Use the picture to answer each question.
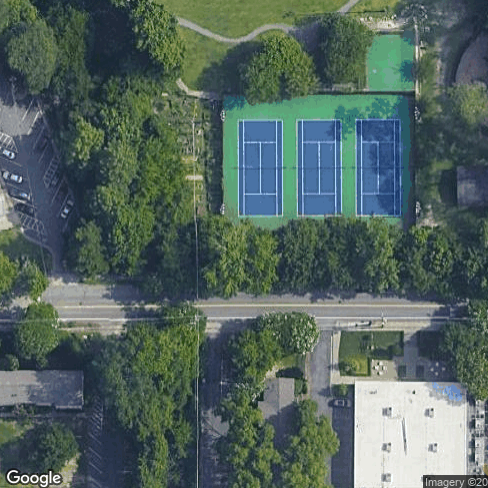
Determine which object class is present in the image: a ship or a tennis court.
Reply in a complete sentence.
This aerial view contains a tennis court.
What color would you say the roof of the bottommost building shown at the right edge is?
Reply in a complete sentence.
The color of the roof on the bottommost building shown at the right edge is white.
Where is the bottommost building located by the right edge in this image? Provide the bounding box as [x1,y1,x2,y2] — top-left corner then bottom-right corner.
[354,381,467,488]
